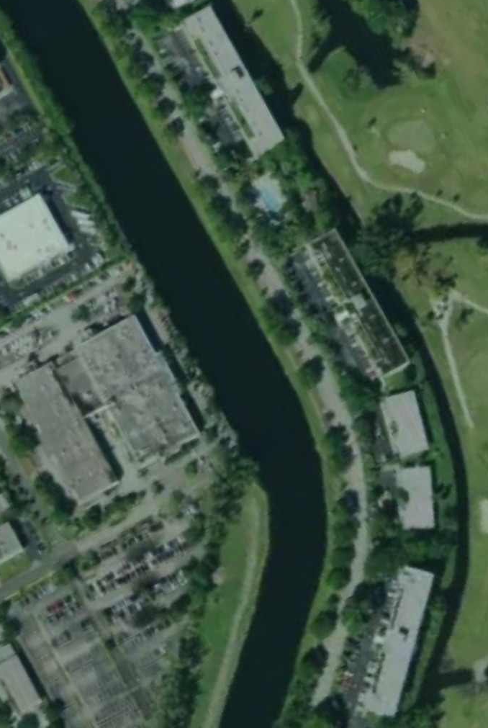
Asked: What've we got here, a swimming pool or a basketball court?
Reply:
swimming pool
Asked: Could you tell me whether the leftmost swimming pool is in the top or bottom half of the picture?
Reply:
top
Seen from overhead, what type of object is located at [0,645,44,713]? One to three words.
building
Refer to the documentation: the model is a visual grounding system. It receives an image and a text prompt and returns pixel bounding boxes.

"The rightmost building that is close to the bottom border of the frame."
[360,567,434,717]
